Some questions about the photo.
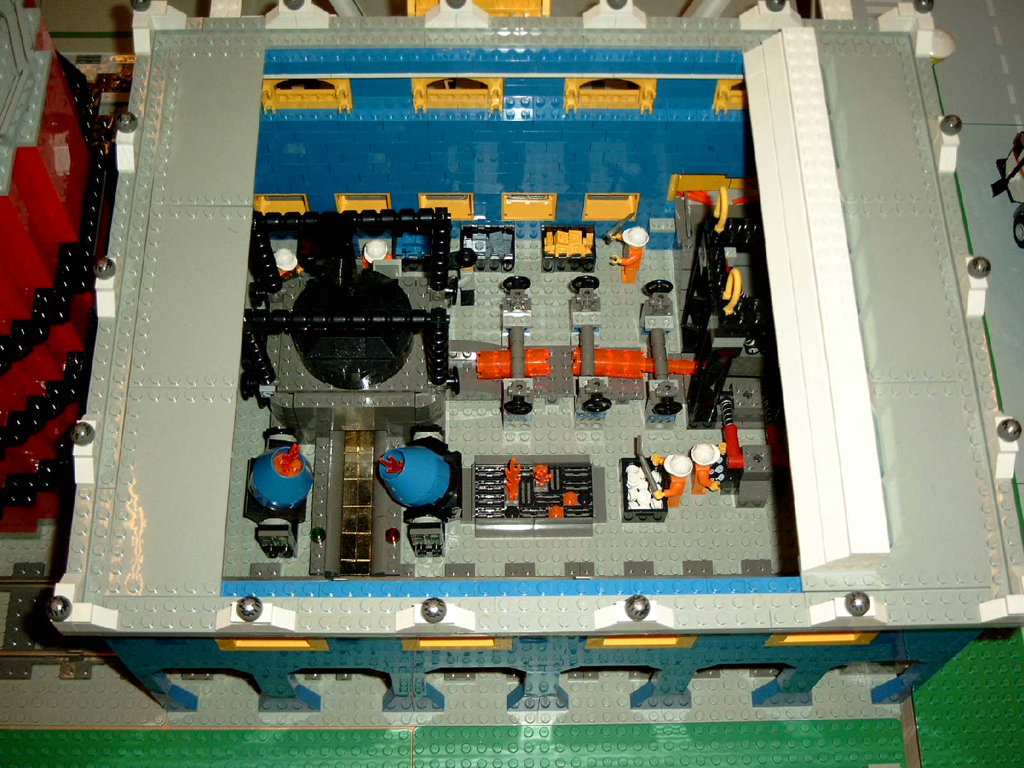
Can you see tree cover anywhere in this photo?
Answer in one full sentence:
No, tree cover can't be seen anywhere here.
